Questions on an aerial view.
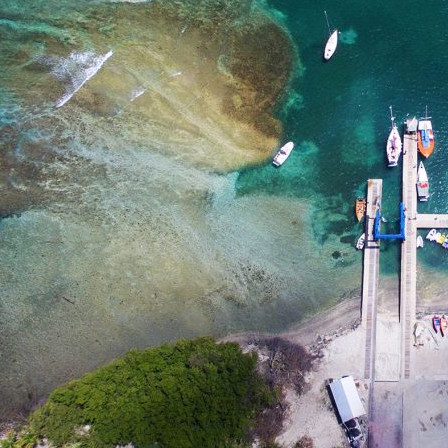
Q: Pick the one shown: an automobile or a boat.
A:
boat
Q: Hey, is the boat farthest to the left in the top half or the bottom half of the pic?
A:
top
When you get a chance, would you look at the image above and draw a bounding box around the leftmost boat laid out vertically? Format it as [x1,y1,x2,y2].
[324,7,339,62]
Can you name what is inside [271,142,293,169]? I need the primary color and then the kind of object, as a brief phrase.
white boat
